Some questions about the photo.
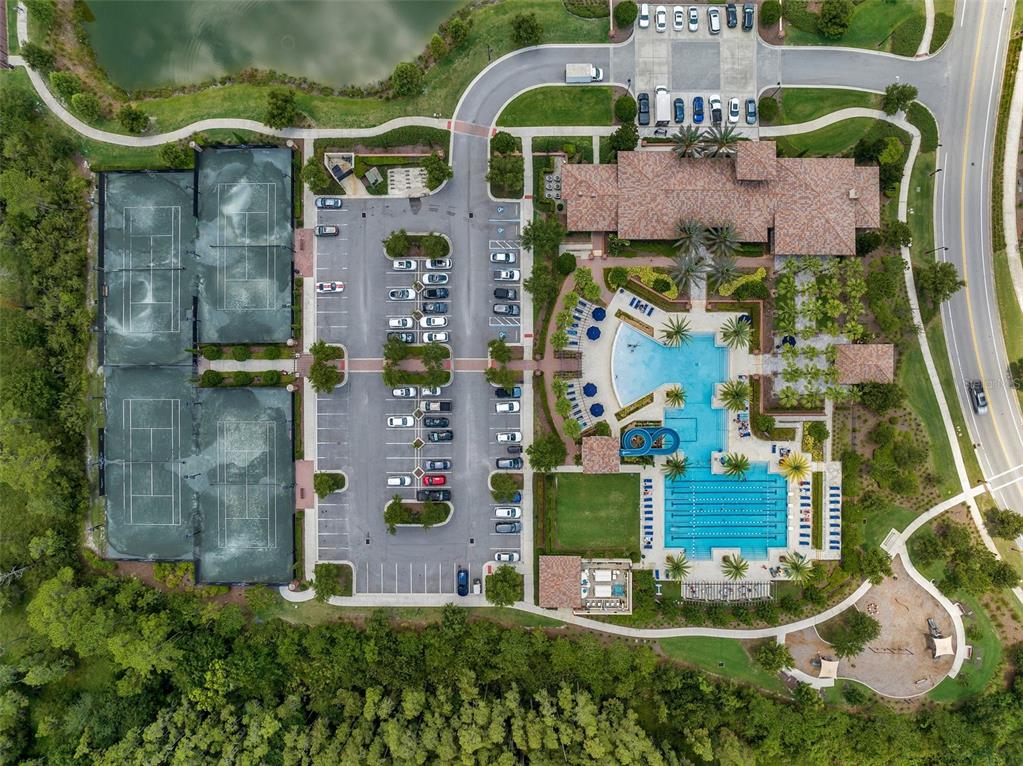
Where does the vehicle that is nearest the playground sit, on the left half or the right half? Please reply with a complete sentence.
It is on the right.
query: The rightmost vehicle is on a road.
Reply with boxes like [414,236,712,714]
[968,381,989,415]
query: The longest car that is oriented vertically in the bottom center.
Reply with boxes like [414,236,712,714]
[456,568,469,594]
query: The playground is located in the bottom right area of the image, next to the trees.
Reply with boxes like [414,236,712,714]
[785,549,956,697]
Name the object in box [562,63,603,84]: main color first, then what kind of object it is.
white vehicle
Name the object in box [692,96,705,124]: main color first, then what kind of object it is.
blue vehicle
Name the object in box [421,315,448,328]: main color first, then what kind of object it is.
white vehicle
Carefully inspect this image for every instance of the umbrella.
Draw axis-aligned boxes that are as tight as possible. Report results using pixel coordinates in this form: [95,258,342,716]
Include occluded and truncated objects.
[589,402,604,417]
[582,383,597,397]
[585,325,601,340]
[591,306,606,322]
[780,334,794,346]
[737,312,751,326]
